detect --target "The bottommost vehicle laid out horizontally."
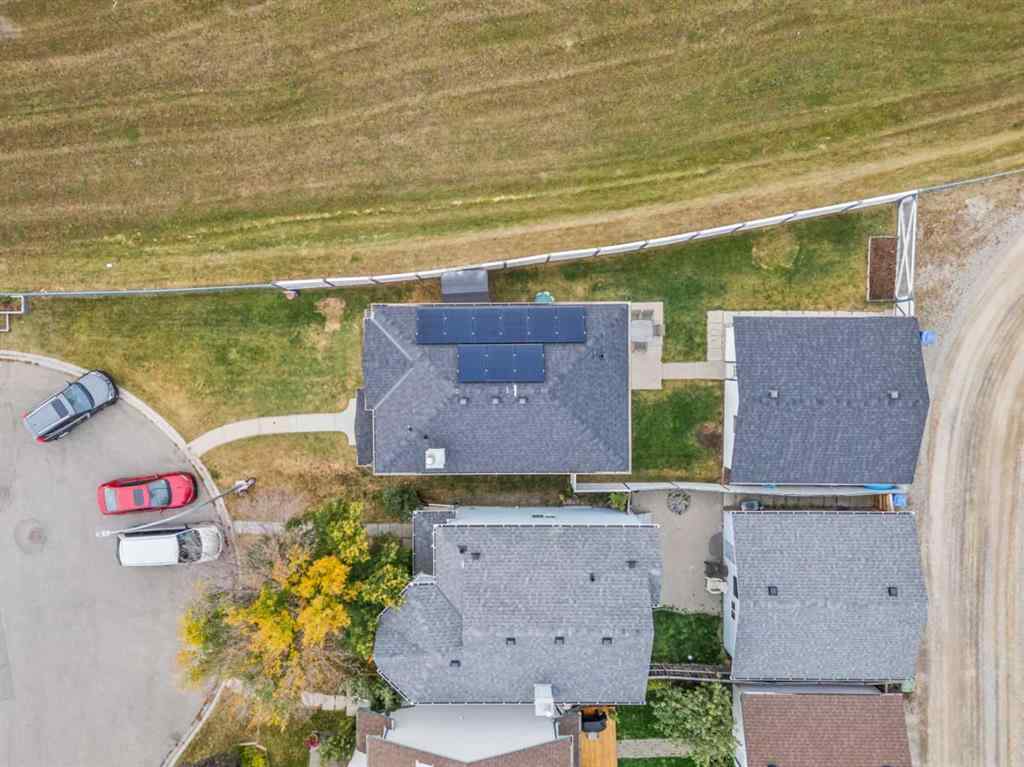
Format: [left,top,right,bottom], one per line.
[118,522,223,569]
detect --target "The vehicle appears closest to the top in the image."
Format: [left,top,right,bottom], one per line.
[23,373,122,441]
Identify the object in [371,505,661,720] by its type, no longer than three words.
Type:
house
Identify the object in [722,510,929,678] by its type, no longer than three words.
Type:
building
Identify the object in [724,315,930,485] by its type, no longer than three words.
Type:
building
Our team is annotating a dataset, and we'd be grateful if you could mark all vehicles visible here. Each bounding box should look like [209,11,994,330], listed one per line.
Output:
[118,522,223,569]
[23,373,122,441]
[100,471,200,517]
